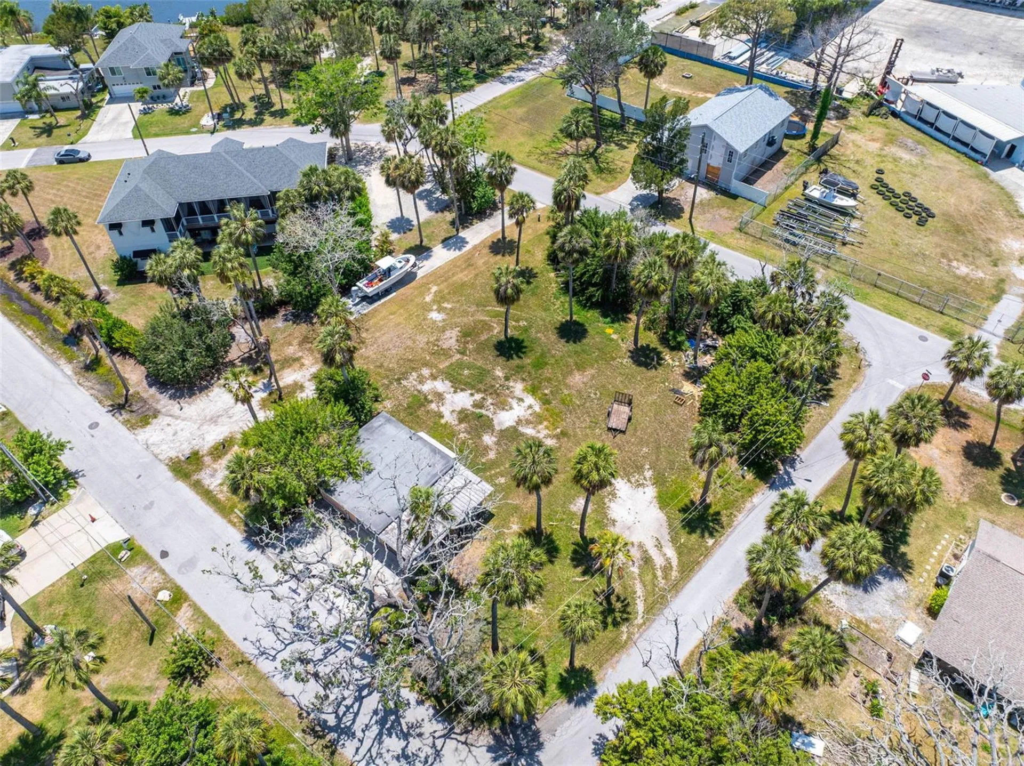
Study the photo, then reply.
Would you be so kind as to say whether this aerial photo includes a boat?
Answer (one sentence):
Yes, you can see a boat in this photo.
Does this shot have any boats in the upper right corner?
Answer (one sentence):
Yes, a boat shows up in the upper right corner.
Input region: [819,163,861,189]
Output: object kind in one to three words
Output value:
boat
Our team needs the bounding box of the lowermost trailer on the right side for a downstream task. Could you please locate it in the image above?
[605,391,634,441]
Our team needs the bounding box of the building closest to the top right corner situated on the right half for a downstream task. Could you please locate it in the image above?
[886,69,1024,166]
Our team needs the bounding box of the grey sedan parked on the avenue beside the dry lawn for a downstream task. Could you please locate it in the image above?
[49,146,92,162]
